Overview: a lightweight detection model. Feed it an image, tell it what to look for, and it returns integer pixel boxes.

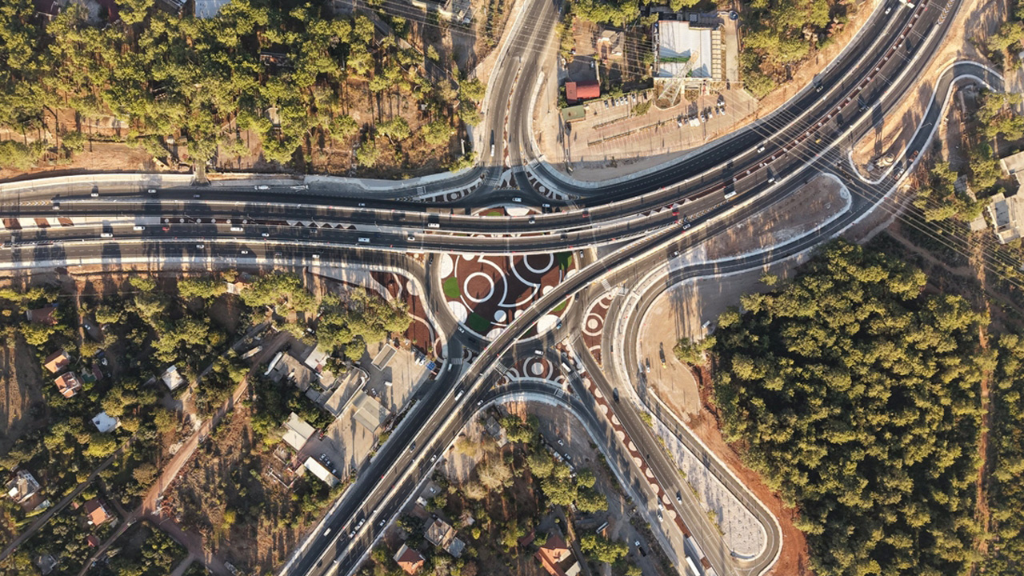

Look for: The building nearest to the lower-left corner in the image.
[36,552,61,574]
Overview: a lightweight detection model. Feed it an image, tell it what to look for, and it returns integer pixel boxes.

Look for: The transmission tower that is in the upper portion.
[655,57,704,107]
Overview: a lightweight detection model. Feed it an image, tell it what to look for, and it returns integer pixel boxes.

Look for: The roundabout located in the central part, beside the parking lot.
[418,186,596,364]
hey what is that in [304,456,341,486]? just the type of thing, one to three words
shed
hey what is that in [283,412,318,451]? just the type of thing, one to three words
barn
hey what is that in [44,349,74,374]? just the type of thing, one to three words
house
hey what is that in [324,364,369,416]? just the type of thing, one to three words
building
